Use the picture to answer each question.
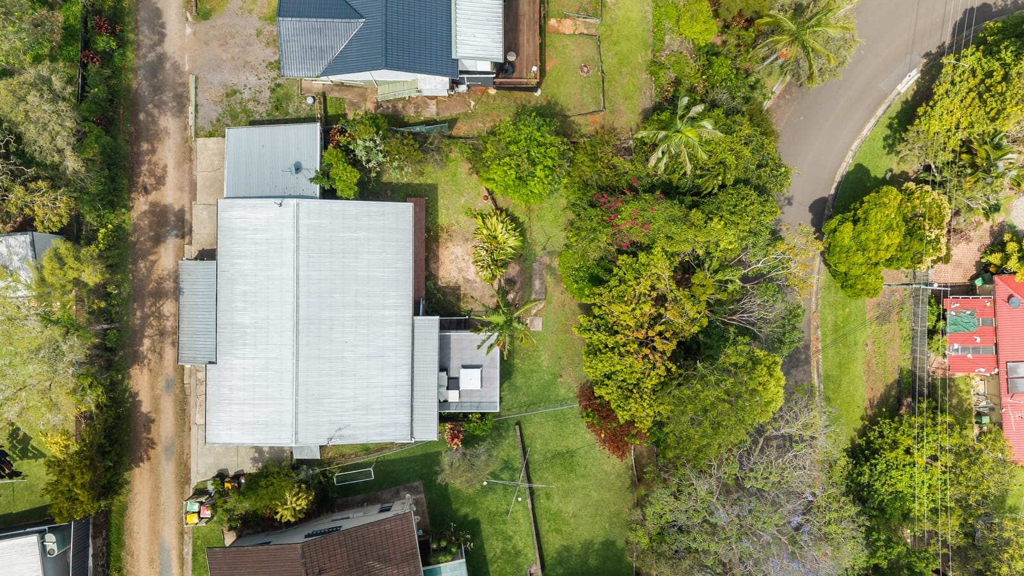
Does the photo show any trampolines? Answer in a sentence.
No, there's no trampoline here.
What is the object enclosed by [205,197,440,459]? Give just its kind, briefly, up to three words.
house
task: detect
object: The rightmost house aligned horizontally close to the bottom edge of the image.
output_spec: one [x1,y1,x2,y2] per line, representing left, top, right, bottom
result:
[204,487,425,576]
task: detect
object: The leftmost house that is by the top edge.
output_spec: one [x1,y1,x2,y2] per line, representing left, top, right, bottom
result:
[277,0,457,96]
